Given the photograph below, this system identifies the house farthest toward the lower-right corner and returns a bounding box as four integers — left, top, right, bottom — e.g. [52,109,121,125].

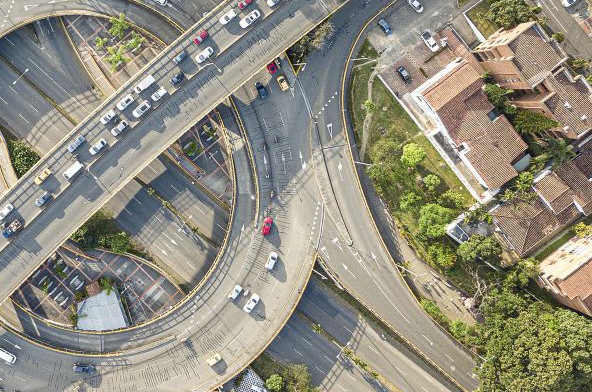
[526,244,592,319]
